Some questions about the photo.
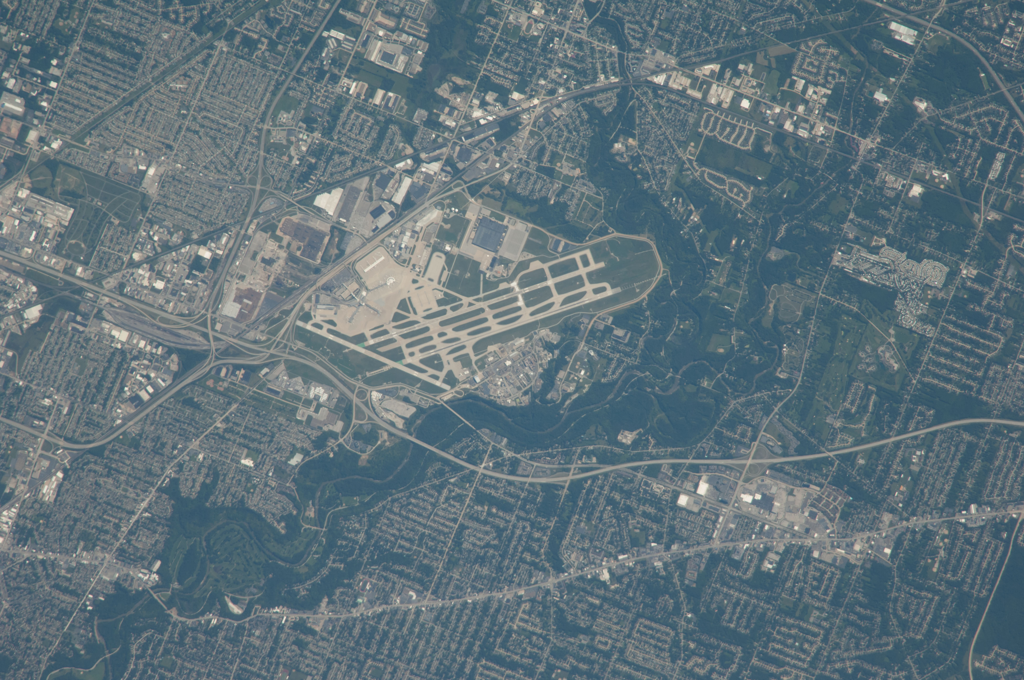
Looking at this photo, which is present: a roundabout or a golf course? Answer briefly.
golf course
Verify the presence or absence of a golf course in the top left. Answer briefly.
No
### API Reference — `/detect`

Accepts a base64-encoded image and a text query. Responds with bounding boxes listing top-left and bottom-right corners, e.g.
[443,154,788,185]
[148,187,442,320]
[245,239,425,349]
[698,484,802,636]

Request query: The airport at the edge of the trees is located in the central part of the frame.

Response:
[295,221,663,390]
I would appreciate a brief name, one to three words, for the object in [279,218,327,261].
building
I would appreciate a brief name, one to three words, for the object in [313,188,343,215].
building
